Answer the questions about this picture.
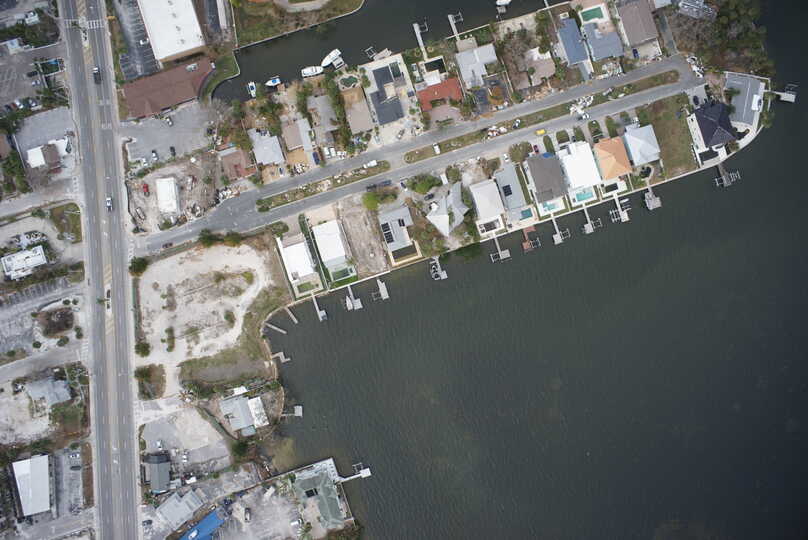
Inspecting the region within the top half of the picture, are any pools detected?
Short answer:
Yes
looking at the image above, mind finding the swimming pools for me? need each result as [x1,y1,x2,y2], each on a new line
[640,167,653,178]
[38,58,61,76]
[604,182,619,193]
[481,217,503,233]
[541,201,560,212]
[331,267,354,281]
[297,281,316,294]
[342,76,358,87]
[578,4,608,24]
[389,61,403,78]
[575,190,595,201]
[520,208,533,220]
[698,149,720,162]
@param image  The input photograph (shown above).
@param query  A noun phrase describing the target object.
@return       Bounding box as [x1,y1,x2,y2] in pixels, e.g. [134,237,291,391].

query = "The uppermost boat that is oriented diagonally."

[323,48,342,66]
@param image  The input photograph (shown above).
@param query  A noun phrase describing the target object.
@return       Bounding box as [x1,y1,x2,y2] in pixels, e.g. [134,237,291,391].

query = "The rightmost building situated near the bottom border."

[294,474,344,528]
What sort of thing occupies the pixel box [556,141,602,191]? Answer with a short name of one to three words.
house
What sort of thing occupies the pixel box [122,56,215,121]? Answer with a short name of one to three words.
building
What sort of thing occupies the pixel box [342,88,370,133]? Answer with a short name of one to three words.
house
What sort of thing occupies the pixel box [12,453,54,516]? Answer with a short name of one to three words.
building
